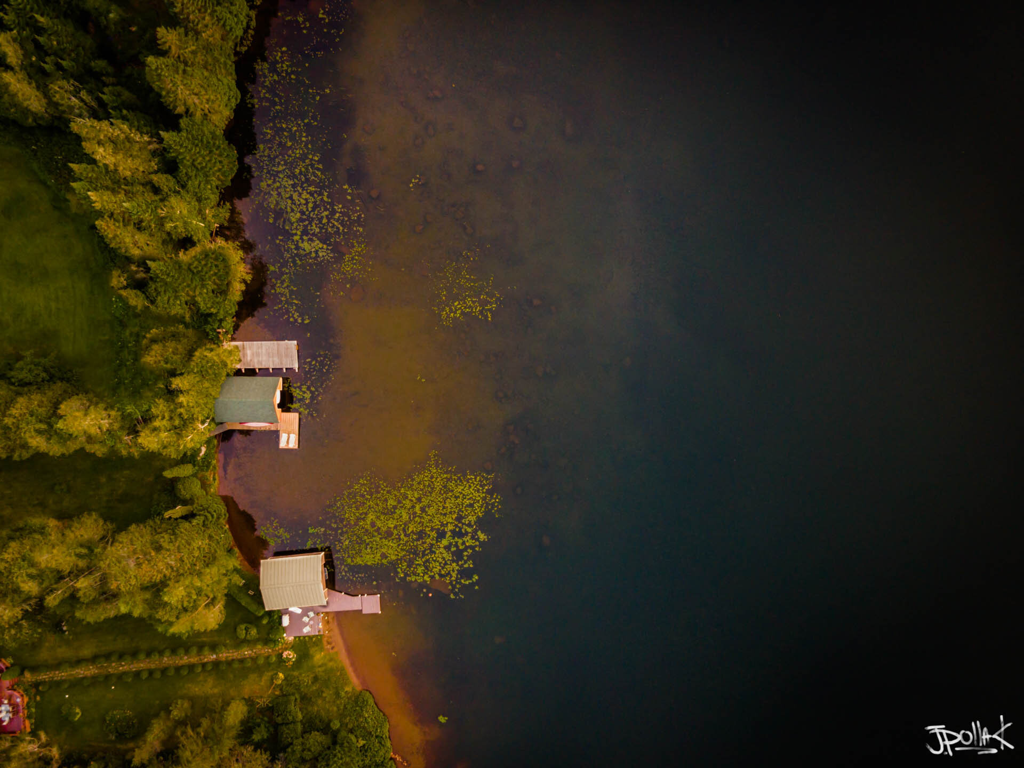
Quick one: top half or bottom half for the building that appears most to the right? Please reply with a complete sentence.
You can find the building that appears most to the right in the bottom half.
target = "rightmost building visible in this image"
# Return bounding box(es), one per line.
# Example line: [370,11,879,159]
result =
[259,551,329,611]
